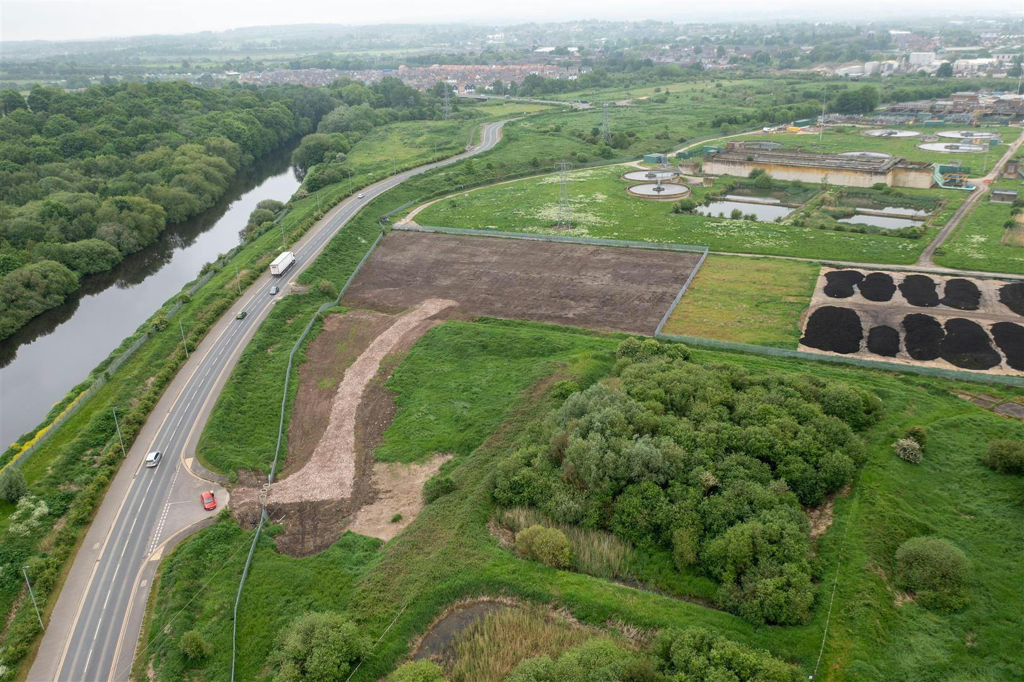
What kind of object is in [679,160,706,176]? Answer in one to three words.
building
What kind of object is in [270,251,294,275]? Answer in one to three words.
truck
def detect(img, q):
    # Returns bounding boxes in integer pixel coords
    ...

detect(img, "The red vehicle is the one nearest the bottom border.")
[201,489,216,508]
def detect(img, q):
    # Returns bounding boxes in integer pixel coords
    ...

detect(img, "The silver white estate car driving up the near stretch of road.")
[143,450,161,466]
